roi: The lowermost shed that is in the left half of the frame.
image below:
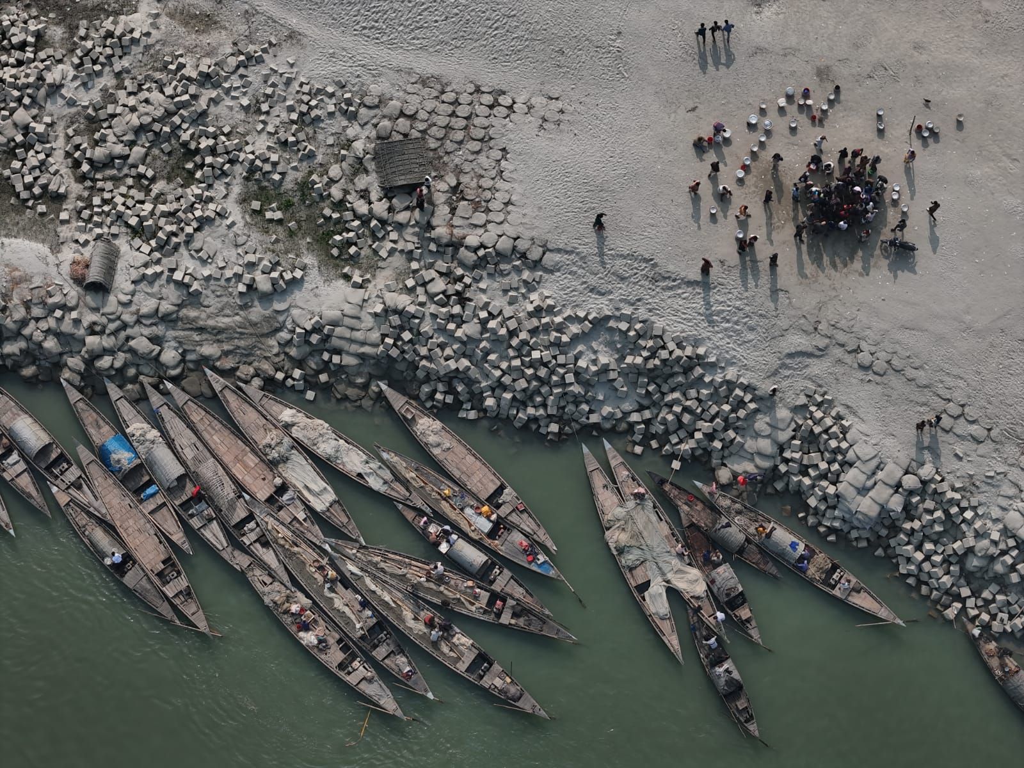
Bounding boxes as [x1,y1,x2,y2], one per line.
[79,238,123,288]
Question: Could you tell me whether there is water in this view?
Yes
